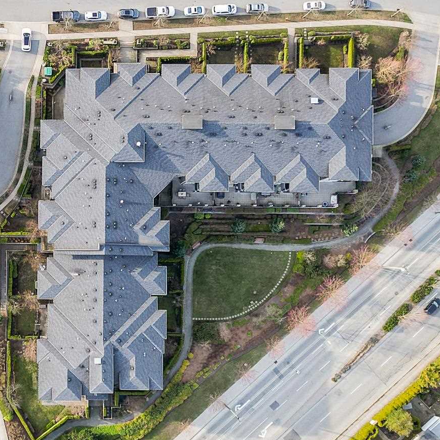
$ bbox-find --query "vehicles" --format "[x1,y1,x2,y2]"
[51,10,80,23]
[145,5,175,18]
[246,1,269,13]
[302,0,325,11]
[183,5,205,17]
[348,0,371,10]
[212,5,237,15]
[422,296,440,316]
[118,7,139,19]
[84,10,107,21]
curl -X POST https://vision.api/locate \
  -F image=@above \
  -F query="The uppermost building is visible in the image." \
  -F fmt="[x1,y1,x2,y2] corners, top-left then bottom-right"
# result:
[37,62,375,401]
